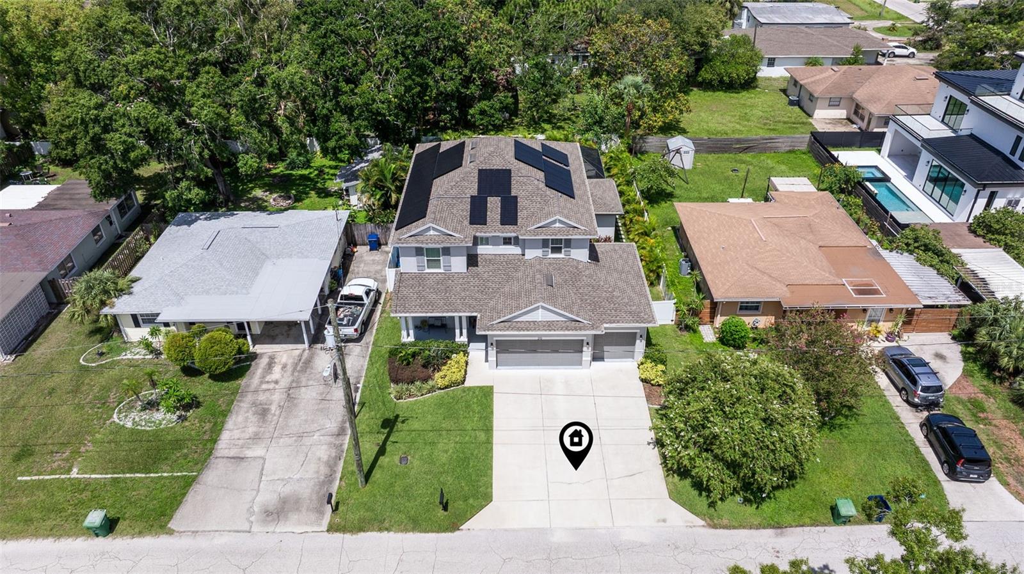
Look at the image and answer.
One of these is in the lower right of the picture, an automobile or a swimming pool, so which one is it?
automobile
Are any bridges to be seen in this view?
No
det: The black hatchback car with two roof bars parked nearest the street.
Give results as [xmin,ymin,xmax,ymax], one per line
[915,413,997,490]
